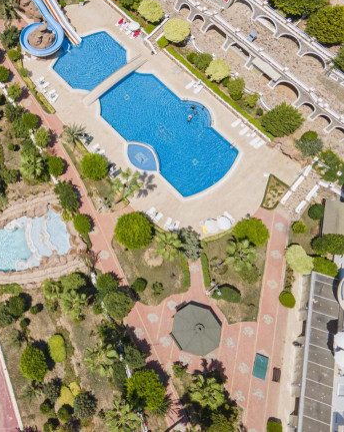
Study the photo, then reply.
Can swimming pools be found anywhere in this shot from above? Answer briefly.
Yes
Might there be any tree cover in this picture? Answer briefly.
Yes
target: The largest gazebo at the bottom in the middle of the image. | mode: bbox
[168,305,222,354]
